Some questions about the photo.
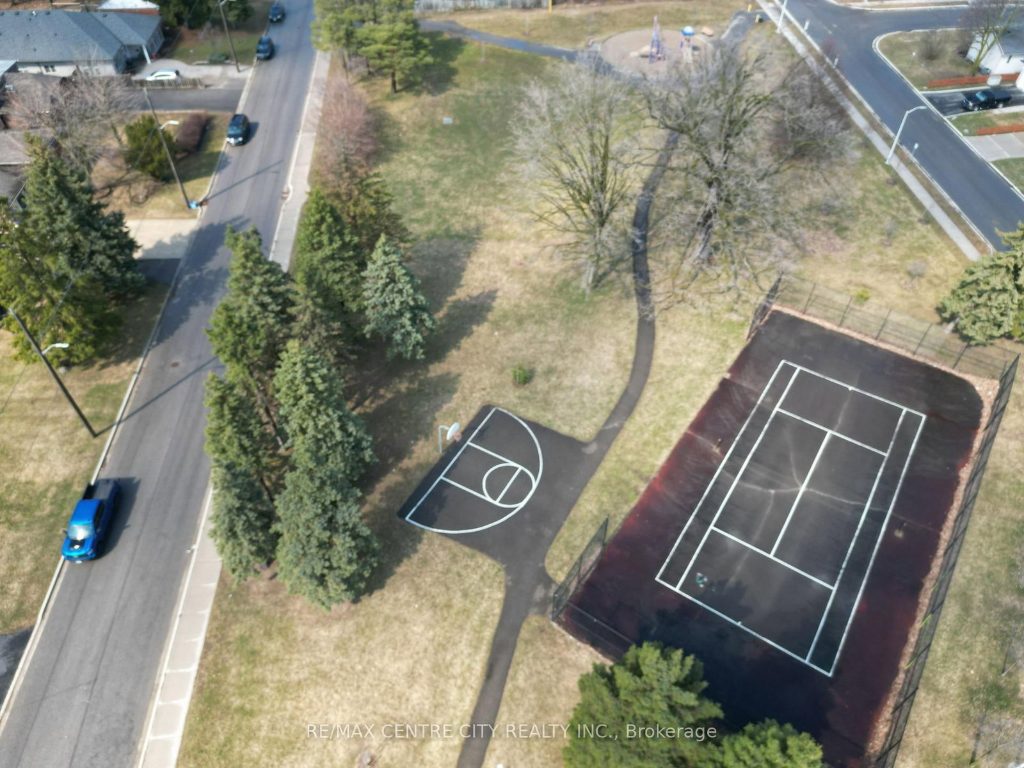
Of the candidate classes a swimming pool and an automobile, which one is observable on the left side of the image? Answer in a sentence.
There is an automobile on the left side of the image.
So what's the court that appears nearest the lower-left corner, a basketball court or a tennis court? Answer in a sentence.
From above, the court that appears nearest the lower-left corner can be identified as a basketball court.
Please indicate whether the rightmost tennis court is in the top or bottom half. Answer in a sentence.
Seen from above, the rightmost tennis court lies in the bottom half of the view.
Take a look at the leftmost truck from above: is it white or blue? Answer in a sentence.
The leftmost truck looks blue in the image.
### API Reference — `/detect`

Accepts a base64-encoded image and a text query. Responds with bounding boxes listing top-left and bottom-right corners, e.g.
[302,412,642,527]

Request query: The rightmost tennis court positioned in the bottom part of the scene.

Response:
[553,309,983,768]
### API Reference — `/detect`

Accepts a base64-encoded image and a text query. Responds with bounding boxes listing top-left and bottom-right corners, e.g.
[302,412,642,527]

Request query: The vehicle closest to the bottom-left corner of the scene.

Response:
[63,479,126,561]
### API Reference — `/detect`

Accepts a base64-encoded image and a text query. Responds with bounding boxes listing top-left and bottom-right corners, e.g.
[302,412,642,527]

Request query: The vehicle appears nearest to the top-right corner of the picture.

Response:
[961,88,1015,110]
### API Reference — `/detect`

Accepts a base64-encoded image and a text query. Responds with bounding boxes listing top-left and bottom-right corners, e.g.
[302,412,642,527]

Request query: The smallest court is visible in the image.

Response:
[398,405,611,579]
